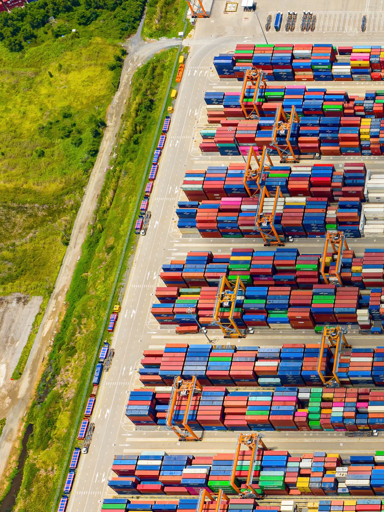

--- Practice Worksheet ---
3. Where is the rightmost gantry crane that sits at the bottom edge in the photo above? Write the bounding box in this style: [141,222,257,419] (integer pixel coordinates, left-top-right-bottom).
[230,433,274,502]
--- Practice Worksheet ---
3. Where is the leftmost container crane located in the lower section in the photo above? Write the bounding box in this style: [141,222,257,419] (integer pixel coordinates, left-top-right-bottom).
[161,376,202,442]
